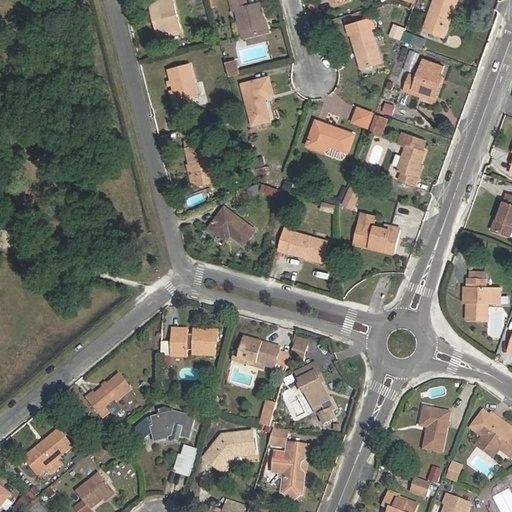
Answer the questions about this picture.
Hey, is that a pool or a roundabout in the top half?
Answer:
pool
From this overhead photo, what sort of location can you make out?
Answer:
residential area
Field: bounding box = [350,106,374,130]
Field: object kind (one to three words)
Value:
building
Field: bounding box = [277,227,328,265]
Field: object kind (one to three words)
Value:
house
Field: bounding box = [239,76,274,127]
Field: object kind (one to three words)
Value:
house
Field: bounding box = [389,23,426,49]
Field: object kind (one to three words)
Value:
shed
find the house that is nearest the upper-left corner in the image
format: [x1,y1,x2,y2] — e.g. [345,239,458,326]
[149,0,184,38]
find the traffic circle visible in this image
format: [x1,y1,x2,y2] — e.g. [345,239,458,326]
[368,308,437,382]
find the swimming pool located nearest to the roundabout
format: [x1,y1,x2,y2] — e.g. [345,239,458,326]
[420,386,448,400]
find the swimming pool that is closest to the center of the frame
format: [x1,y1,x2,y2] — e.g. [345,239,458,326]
[186,193,206,208]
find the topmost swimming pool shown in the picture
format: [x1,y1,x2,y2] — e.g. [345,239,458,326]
[237,40,270,64]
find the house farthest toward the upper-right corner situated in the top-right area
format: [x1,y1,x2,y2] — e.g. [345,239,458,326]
[421,0,458,42]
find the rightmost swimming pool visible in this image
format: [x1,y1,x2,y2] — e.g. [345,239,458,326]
[471,456,495,474]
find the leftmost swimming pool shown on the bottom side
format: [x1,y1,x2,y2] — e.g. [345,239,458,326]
[178,368,199,382]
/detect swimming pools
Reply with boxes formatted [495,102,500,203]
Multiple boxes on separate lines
[290,398,305,416]
[231,370,253,386]
[471,456,495,474]
[420,386,448,400]
[178,368,199,382]
[186,193,206,208]
[237,40,270,64]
